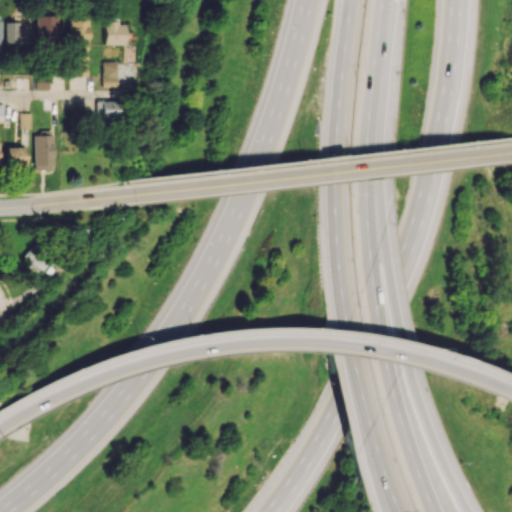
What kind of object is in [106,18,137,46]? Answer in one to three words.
house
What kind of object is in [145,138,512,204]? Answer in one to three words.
overpass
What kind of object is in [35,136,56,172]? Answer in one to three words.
house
